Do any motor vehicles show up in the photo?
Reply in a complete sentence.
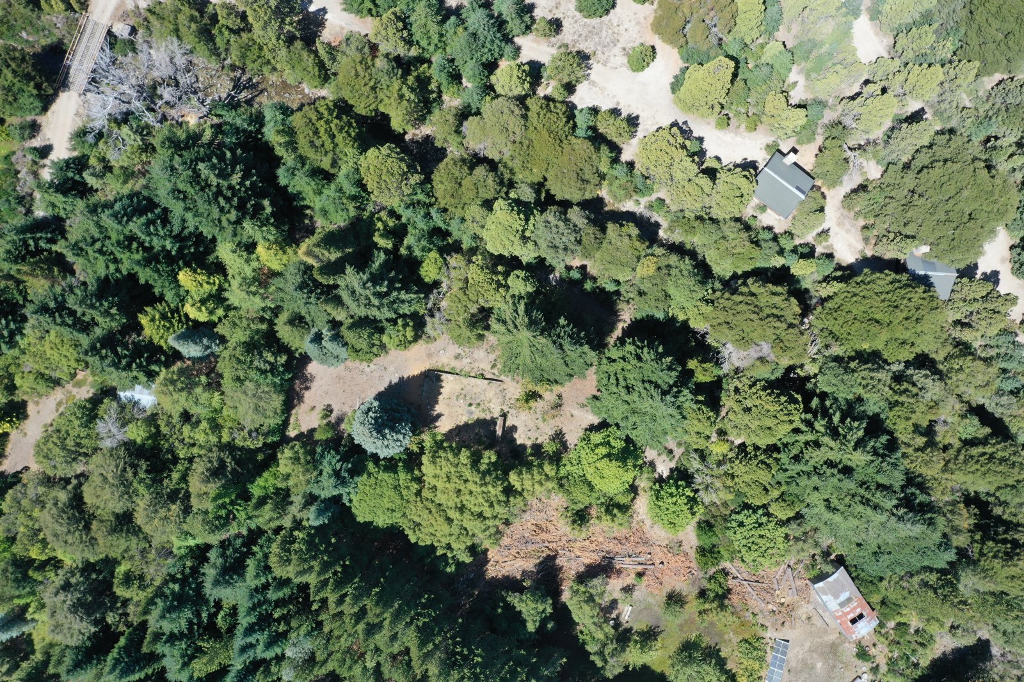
No, no motor vehicle is visible in the scene.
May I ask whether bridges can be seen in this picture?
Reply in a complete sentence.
Yes, the image includes a bridge.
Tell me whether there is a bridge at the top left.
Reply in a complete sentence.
Yes, you'll find a bridge at the top left.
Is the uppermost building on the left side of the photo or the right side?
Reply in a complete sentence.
The uppermost building appears in the right half of the scene.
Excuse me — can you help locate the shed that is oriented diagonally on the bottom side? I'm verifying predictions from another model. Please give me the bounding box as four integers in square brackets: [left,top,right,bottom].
[809,562,879,641]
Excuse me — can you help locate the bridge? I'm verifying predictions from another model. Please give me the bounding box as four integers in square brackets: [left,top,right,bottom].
[54,11,108,96]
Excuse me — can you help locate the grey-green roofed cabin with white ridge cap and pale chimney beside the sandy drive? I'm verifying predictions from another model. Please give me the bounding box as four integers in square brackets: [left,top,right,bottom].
[751,151,815,219]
